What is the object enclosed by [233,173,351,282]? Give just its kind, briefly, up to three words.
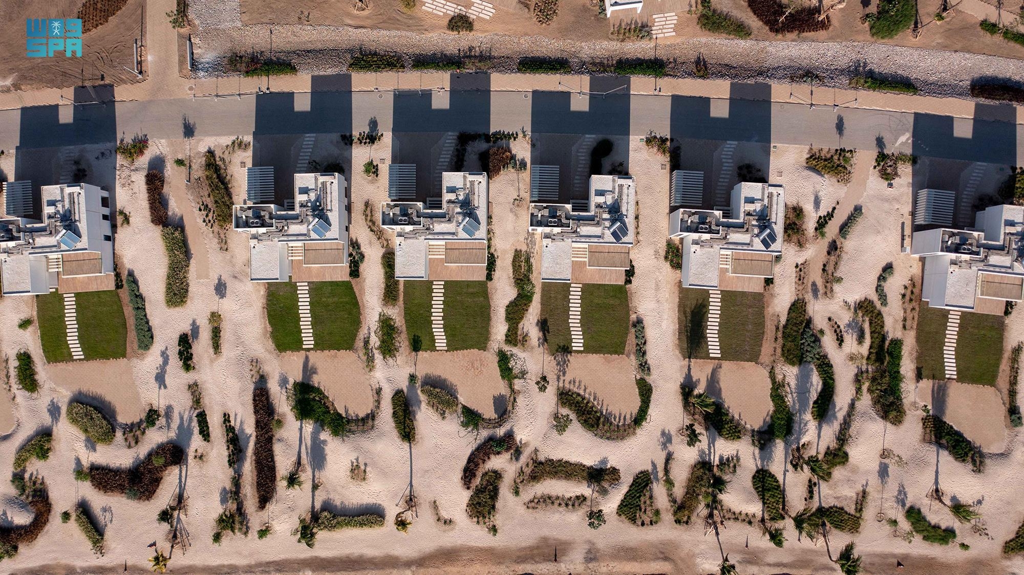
house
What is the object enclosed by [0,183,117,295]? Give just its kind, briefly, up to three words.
house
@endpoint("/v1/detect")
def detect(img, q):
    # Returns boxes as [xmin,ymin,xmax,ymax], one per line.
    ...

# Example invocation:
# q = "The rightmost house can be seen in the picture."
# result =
[912,208,1024,317]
